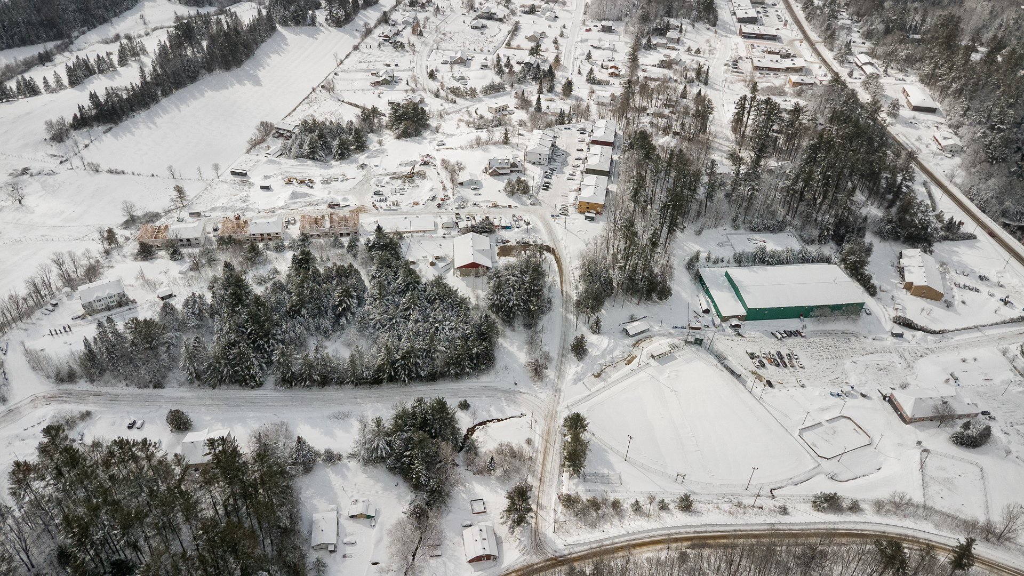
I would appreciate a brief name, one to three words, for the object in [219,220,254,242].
house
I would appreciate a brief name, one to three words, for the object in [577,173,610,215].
building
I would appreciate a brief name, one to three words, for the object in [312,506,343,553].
house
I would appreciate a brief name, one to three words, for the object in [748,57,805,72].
building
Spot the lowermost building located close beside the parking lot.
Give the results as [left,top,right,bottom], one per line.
[888,387,979,423]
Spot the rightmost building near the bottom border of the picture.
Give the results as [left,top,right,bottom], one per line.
[464,520,498,561]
